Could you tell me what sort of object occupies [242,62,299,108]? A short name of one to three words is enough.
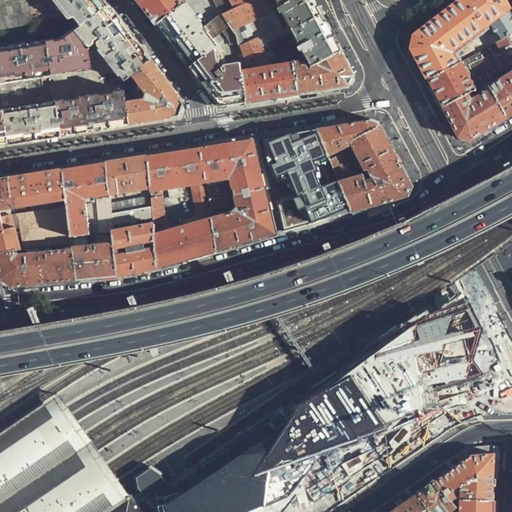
house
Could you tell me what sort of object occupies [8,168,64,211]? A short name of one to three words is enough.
house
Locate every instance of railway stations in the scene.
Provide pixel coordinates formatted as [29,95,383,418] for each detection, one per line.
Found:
[0,394,129,512]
